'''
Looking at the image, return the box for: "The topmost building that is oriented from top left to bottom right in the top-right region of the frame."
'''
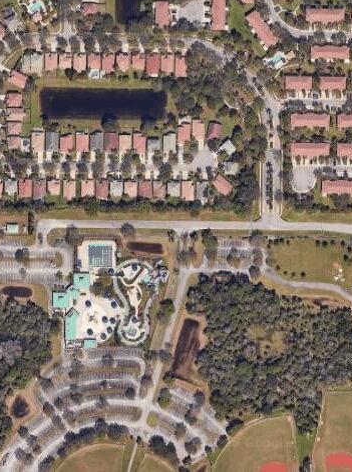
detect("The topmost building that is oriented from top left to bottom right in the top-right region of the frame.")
[242,11,280,46]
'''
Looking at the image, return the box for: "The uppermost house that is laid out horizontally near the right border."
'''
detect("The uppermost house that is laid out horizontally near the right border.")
[305,5,344,21]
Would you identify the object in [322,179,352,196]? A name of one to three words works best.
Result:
house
